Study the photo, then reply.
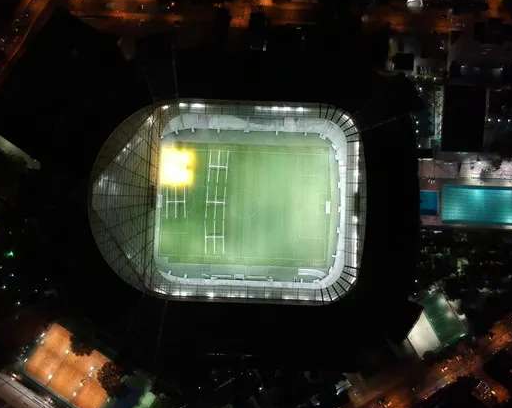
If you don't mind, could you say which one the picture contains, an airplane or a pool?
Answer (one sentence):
I can see a pool in this picture.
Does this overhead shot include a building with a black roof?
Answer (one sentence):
Yes, the photo shows a building with a black roof.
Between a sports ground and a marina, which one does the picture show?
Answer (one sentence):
The area seen from above is a sports ground.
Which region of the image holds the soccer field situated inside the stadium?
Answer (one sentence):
The soccer field situated inside the stadium appears toward the center of the photo.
